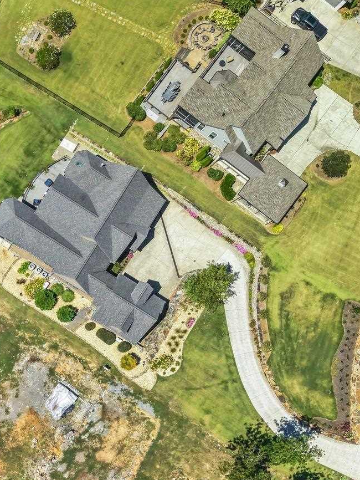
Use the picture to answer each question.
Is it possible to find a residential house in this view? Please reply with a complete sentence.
Yes, a residential house is visible in the scene.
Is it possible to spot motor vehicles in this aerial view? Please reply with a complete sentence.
Yes, the photo shows a motor vehicle.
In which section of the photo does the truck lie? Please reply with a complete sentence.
The truck appears toward the top right of the photo.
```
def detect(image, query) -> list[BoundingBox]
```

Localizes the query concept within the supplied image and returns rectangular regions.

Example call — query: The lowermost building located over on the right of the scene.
[232,156,308,228]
